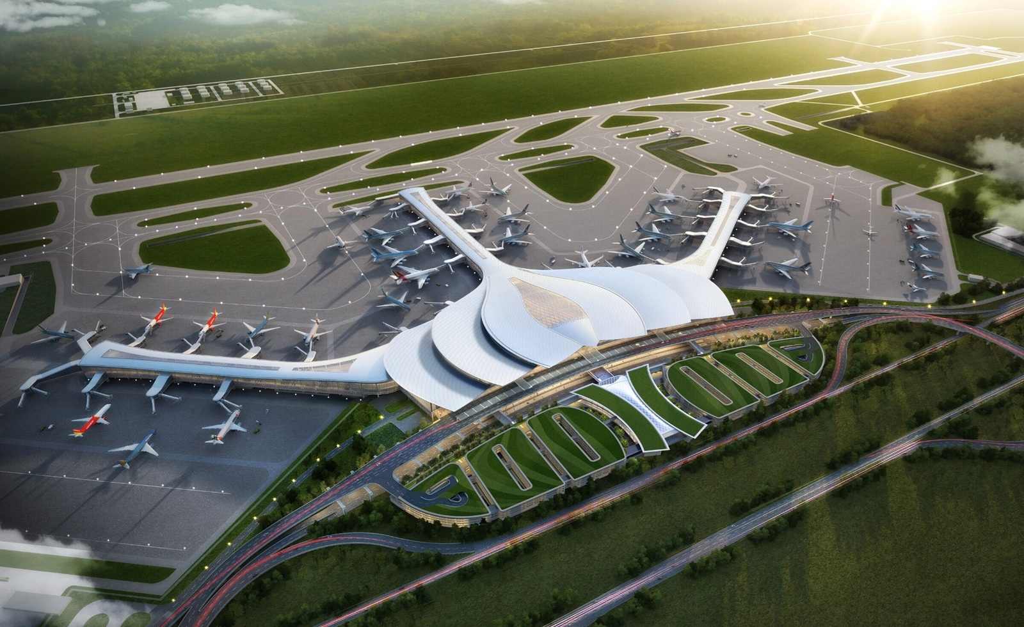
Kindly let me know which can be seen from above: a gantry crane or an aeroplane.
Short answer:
aeroplane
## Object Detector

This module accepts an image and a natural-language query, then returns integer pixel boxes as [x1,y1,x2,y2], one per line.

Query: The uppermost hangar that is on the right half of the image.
[980,225,1024,255]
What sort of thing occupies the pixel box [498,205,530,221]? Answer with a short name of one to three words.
airplane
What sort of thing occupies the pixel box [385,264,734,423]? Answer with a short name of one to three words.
building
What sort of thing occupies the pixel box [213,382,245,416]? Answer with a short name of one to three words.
jet bridge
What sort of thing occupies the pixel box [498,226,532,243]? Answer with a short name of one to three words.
airplane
